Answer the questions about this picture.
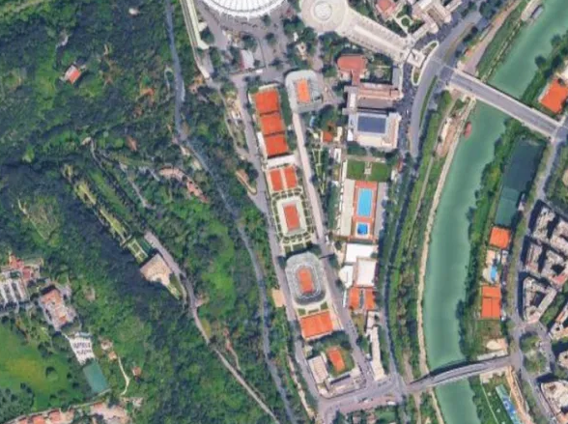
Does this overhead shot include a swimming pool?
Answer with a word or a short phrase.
Yes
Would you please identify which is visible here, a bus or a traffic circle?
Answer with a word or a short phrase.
traffic circle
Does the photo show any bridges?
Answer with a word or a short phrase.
Yes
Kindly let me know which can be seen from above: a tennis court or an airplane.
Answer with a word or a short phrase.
tennis court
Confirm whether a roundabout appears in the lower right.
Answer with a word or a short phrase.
Yes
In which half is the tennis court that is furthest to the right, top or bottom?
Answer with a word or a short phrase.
top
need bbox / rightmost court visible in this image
[541,79,568,111]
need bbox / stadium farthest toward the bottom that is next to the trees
[286,253,327,305]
